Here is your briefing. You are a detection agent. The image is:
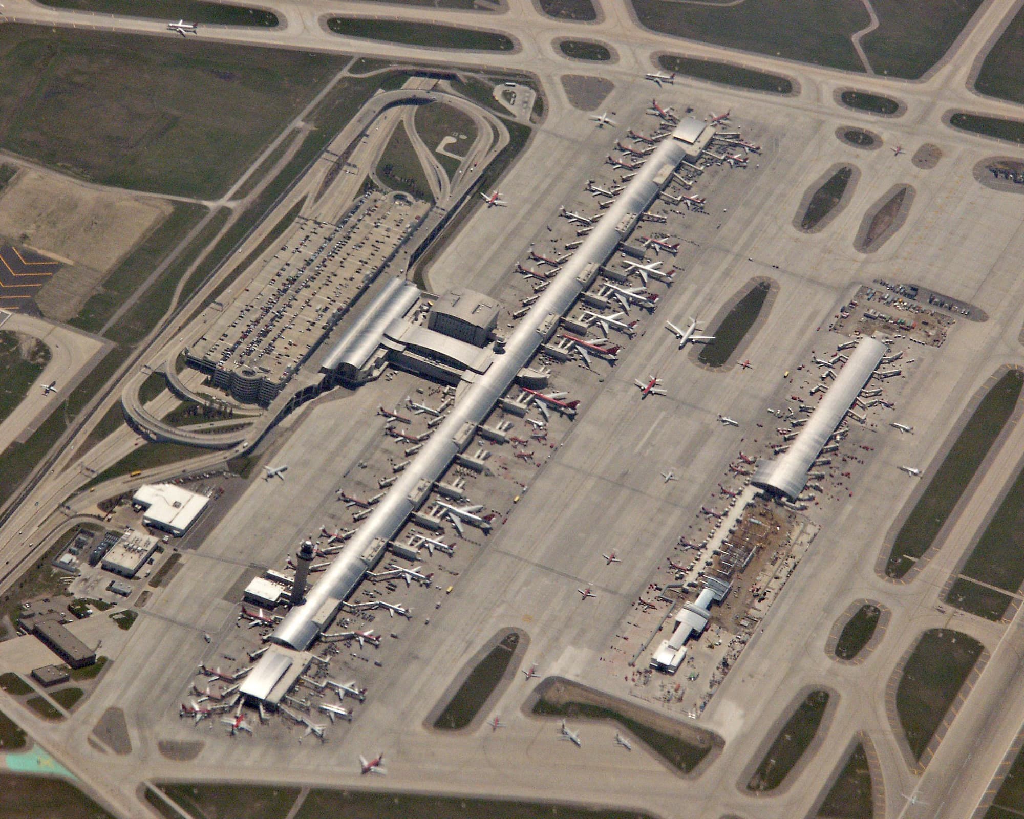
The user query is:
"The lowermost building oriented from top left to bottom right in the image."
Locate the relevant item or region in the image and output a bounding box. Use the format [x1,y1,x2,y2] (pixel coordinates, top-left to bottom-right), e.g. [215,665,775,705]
[22,605,99,660]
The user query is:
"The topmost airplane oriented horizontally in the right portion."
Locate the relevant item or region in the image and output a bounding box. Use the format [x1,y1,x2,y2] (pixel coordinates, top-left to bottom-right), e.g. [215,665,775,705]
[646,68,680,83]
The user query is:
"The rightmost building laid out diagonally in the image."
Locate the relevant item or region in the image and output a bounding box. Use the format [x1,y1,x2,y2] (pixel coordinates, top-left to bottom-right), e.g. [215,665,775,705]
[741,336,893,503]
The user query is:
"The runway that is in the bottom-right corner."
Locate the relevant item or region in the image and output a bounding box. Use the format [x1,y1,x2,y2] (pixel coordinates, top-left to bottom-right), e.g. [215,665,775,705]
[898,603,1024,819]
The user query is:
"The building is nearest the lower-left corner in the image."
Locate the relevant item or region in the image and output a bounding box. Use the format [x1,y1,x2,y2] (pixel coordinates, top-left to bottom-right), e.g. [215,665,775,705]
[34,660,73,682]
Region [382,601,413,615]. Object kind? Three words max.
airplane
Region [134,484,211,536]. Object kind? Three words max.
building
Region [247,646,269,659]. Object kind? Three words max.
jet bridge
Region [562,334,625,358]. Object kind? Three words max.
airplane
